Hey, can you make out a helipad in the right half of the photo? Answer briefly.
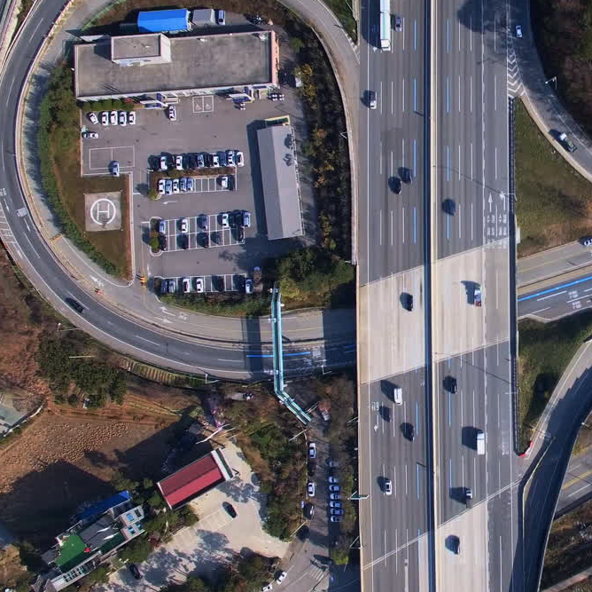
No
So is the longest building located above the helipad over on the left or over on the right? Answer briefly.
left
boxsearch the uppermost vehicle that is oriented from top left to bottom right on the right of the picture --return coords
[560,133,573,150]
